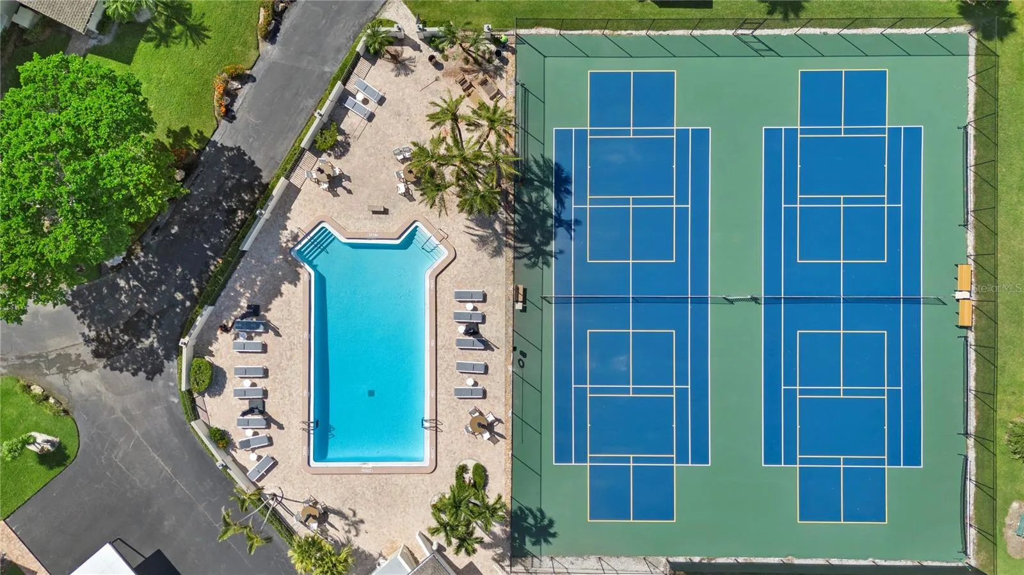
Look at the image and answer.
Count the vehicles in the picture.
none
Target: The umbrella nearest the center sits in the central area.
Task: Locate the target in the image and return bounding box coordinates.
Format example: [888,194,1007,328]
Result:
[462,322,478,336]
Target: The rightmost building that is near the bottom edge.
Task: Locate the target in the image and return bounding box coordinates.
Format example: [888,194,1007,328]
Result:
[405,544,466,575]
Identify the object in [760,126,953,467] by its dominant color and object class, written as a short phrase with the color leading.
blue tennis court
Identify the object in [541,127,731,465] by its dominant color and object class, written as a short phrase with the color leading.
blue tennis court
